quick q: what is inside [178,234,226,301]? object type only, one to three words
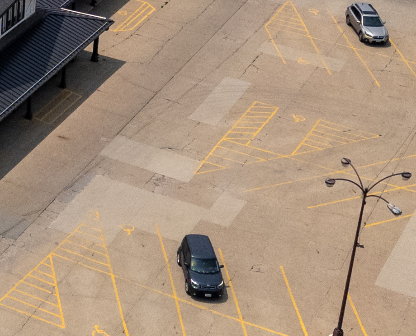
car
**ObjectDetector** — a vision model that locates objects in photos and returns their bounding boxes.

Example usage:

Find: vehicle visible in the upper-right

[346,2,388,44]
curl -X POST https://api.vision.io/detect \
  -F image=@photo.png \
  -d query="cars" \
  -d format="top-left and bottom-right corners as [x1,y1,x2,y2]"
[346,2,388,44]
[178,234,226,301]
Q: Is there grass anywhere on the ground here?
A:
No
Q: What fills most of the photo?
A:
paved ground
